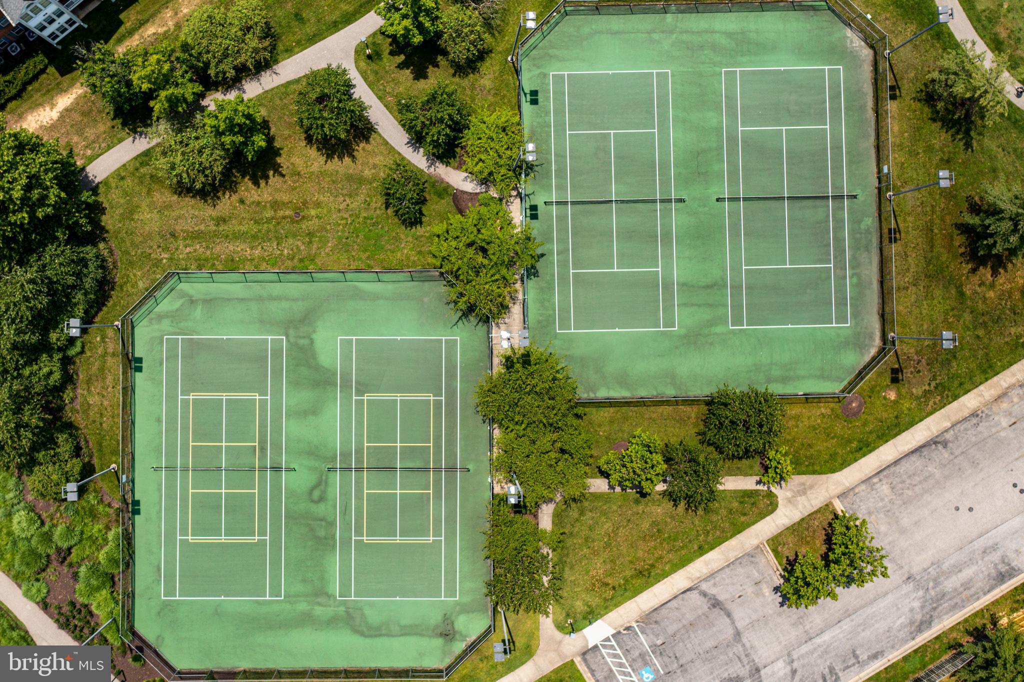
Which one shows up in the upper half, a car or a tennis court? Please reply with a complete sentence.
The feature located in the upper half is a tennis court.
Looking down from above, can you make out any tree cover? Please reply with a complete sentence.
Yes, tree cover can be seen from above here.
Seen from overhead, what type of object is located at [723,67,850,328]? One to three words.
tennis court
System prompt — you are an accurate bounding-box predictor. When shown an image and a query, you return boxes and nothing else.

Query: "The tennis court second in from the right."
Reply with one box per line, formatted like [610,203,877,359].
[551,70,677,332]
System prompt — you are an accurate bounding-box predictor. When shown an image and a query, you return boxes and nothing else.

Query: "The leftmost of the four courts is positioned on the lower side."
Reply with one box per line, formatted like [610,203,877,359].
[162,337,285,599]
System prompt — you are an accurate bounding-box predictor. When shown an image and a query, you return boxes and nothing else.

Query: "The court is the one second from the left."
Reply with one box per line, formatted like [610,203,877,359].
[338,338,459,599]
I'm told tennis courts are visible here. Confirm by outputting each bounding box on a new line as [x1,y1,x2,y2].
[551,70,677,332]
[162,337,285,599]
[338,338,459,599]
[723,67,850,328]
